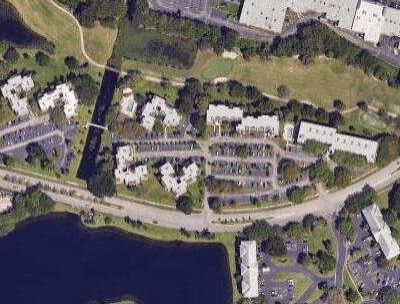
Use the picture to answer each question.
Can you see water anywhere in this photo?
Yes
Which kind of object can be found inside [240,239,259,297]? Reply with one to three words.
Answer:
building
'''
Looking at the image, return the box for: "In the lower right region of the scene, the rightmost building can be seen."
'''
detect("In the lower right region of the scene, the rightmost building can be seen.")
[361,204,400,258]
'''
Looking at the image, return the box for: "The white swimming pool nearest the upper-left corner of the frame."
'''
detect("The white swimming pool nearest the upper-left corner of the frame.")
[121,95,138,118]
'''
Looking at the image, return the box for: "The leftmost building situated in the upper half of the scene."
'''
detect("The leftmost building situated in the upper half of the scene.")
[1,75,35,116]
